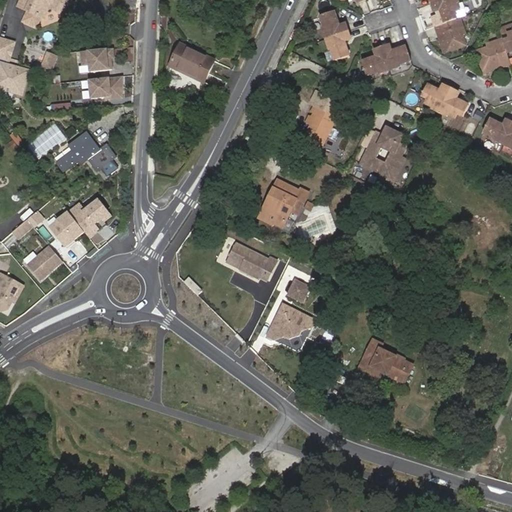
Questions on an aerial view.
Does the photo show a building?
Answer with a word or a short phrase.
Yes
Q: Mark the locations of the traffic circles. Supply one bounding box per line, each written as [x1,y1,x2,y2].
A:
[90,253,160,323]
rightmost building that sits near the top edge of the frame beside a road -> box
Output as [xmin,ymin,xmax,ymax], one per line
[478,22,512,72]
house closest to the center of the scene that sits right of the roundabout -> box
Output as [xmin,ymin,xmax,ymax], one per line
[226,241,280,282]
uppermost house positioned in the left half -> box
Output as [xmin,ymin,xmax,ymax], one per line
[15,0,56,29]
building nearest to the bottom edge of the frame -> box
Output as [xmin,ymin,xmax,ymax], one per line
[359,337,414,380]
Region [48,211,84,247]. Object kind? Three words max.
house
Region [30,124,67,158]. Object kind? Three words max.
greenhouse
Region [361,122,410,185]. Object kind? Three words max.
house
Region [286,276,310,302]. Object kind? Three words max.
building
